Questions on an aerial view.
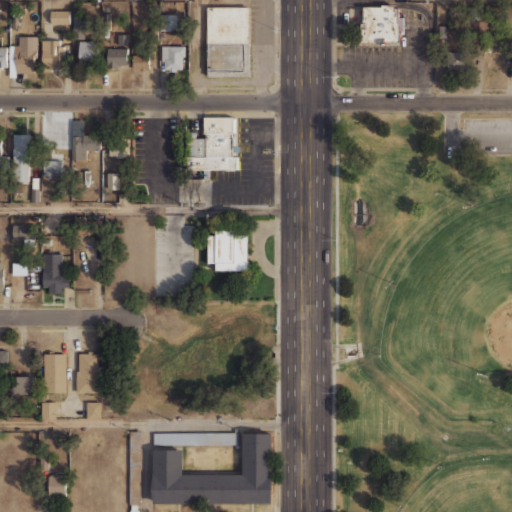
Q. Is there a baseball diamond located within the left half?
No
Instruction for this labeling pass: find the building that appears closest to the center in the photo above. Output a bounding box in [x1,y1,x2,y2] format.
[208,229,248,272]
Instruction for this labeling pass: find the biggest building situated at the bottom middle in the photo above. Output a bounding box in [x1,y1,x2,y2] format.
[152,435,270,504]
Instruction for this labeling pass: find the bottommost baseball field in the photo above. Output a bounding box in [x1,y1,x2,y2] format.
[398,458,512,512]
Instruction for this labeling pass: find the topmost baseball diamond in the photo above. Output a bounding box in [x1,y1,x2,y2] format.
[380,195,512,426]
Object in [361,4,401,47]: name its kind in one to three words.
building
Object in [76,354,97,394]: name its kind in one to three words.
house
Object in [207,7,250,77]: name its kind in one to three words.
building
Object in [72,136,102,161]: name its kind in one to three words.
house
